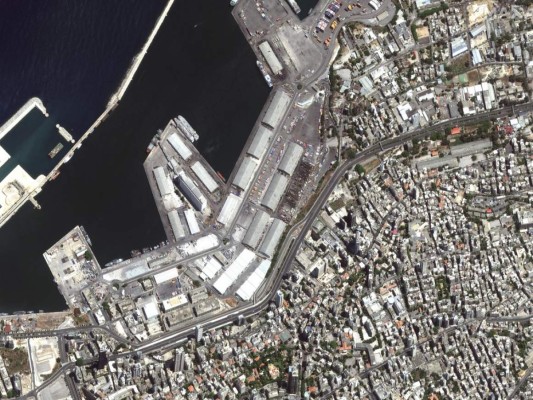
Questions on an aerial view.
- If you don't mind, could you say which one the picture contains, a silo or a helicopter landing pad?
silo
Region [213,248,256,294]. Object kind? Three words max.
building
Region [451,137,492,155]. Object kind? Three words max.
shed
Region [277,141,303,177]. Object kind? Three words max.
building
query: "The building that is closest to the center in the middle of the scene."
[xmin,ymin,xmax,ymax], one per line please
[261,171,289,213]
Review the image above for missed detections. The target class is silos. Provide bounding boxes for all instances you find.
[180,167,213,215]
